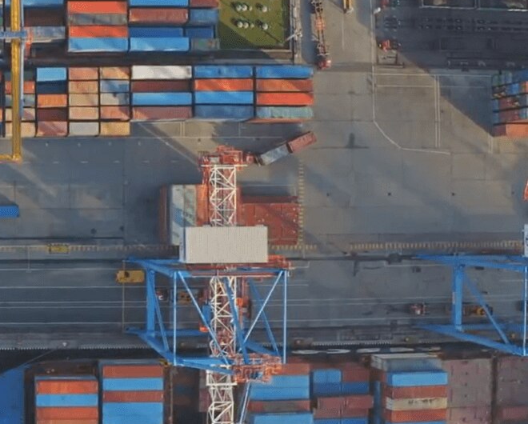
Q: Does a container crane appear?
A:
Yes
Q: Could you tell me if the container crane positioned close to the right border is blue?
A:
Yes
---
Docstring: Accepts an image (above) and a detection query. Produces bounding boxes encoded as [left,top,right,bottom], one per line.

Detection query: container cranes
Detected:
[118,141,294,424]
[402,225,528,369]
[0,0,37,165]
